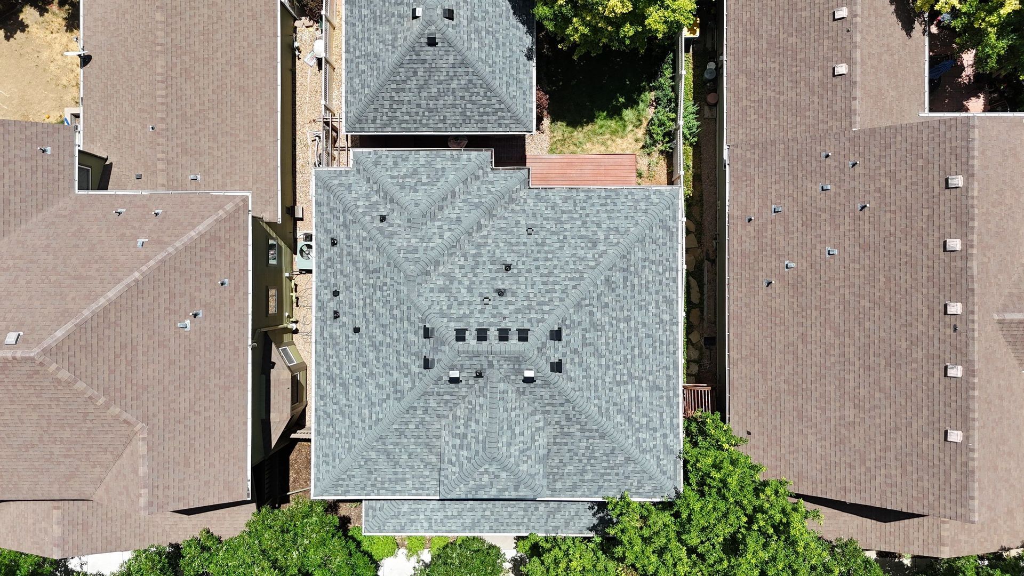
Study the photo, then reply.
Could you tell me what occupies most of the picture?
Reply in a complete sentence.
Most of the picture is covered by buildings.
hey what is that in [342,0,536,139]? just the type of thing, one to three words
building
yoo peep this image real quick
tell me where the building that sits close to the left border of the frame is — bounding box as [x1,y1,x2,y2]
[0,0,307,558]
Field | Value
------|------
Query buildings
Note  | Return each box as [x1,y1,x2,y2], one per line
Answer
[342,0,536,139]
[0,0,307,558]
[712,0,1024,558]
[311,148,685,537]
